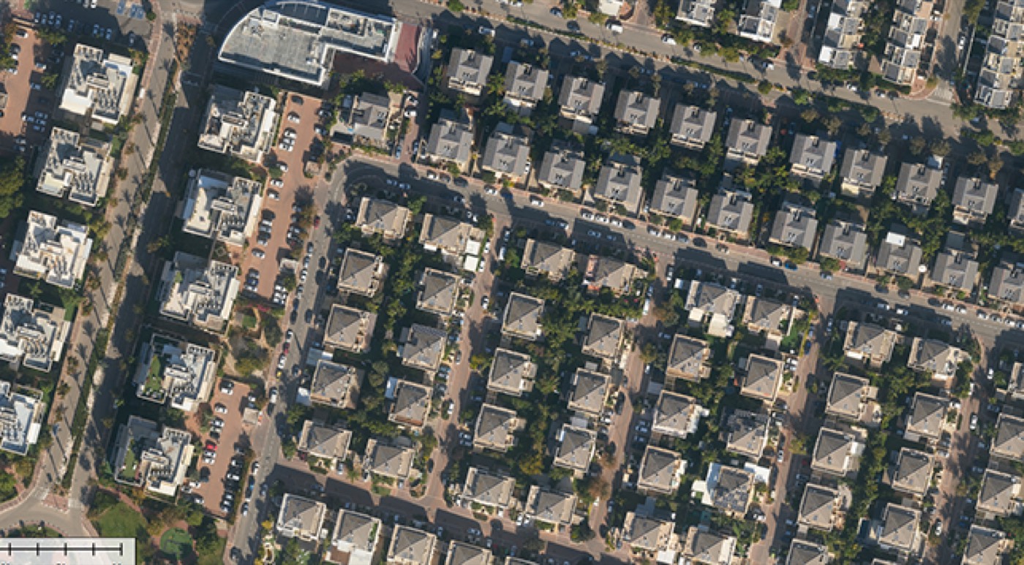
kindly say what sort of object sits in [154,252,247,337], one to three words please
building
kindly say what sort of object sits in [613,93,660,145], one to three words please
house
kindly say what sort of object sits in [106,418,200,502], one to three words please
building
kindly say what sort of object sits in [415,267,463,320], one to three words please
house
